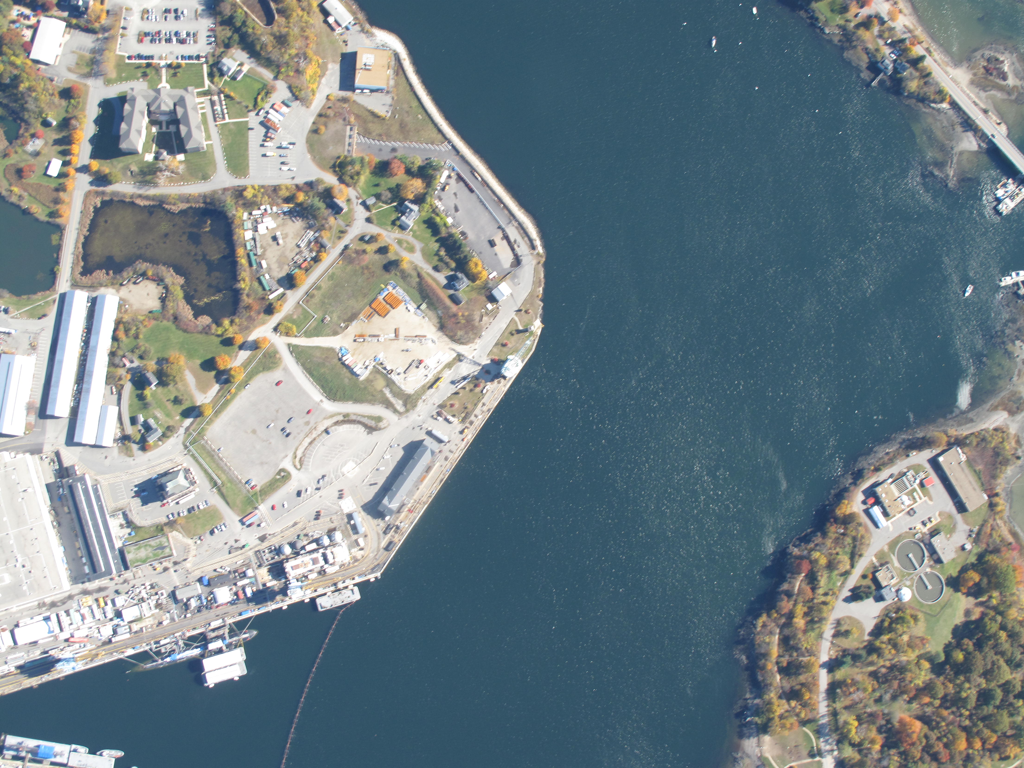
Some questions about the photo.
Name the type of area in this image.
port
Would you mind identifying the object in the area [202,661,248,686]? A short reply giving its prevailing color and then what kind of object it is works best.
white ship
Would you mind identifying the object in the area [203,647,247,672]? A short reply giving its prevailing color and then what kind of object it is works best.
white ship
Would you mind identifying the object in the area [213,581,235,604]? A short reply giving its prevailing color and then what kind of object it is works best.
white tent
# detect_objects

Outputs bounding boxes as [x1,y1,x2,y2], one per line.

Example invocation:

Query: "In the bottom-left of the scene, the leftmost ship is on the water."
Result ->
[3,735,72,765]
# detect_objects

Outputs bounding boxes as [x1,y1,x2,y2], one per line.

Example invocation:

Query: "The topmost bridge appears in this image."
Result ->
[931,68,1024,178]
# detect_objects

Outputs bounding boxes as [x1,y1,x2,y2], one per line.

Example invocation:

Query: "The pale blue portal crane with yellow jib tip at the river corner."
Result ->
[497,325,543,383]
